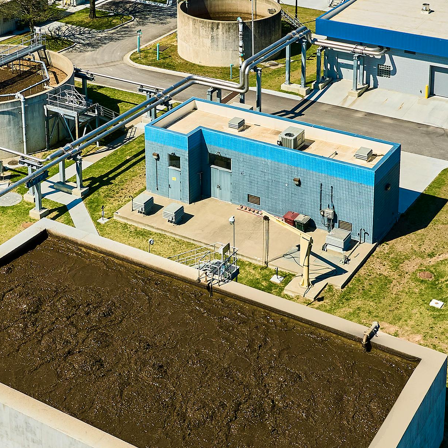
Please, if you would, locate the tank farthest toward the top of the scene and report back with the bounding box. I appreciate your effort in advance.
[175,0,325,70]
